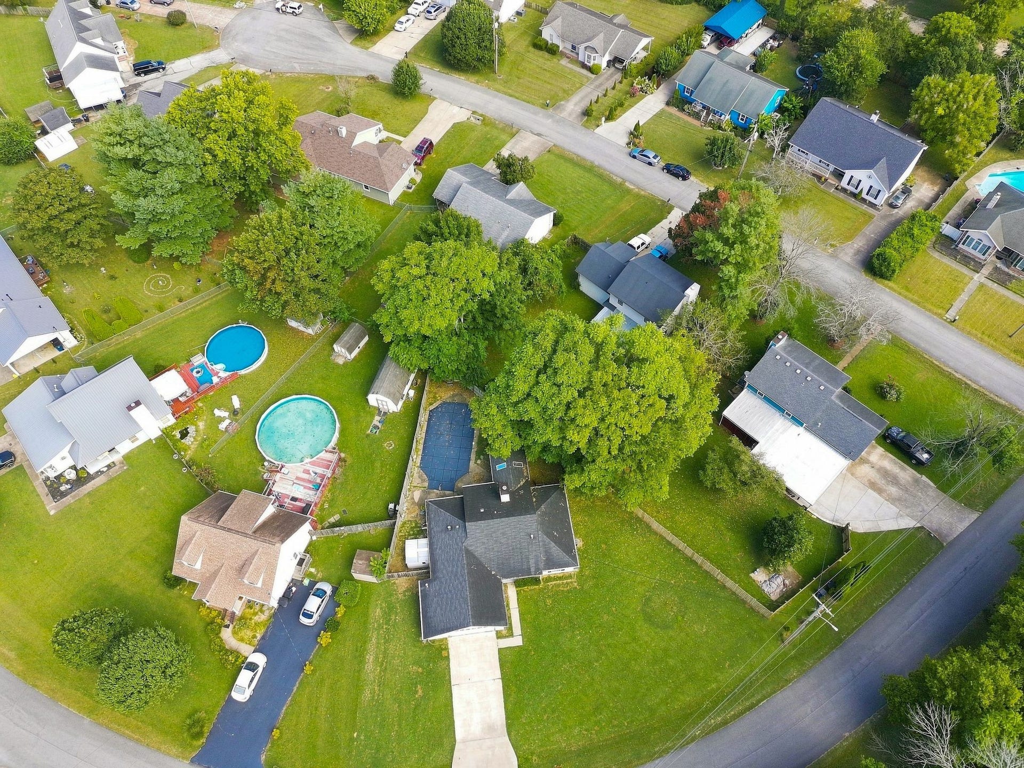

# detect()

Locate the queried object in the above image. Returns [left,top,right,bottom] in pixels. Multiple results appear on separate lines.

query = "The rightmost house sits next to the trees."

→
[937,180,1024,276]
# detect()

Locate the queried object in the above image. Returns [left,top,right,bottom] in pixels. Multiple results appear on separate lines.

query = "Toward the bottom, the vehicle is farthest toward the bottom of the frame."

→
[227,652,268,703]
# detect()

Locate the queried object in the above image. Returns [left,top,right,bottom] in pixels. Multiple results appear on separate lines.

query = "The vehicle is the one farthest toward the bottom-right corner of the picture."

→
[884,425,939,467]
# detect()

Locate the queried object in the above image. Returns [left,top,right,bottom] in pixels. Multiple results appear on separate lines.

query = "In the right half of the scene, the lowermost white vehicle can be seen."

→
[627,230,656,249]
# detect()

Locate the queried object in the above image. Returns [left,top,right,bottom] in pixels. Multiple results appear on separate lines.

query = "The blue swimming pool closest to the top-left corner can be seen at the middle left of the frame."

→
[204,323,270,378]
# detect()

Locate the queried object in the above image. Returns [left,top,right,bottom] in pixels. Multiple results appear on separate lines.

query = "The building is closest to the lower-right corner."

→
[717,329,890,511]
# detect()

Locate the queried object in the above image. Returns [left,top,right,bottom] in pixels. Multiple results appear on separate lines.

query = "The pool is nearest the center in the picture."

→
[418,400,477,493]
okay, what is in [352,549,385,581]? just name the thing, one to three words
shed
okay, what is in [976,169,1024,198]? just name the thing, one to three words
swimming pool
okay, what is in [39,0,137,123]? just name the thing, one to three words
house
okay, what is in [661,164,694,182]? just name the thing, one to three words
car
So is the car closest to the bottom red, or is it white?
white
